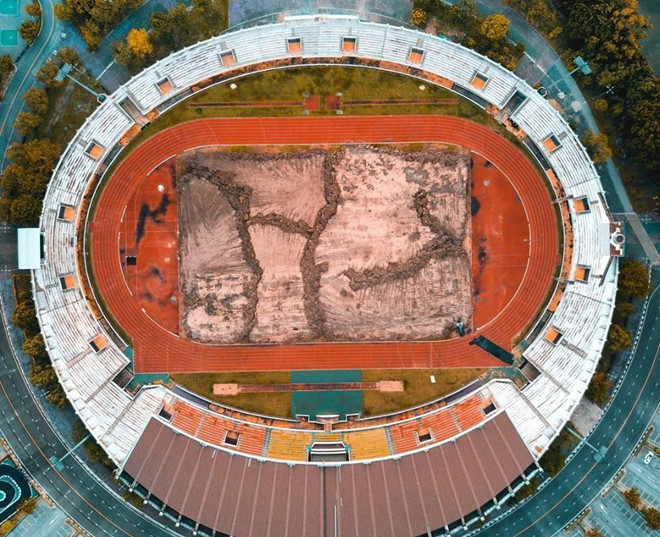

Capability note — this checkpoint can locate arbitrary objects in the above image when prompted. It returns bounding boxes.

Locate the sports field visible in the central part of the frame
[179,148,471,342]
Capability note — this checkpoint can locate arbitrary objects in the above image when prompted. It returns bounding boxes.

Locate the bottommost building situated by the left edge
[18,228,48,269]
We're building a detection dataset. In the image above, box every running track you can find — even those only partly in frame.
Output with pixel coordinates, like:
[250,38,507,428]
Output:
[90,117,560,373]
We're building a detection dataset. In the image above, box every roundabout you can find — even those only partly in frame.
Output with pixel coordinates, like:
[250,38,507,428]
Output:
[0,454,37,524]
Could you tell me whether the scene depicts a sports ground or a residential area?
sports ground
